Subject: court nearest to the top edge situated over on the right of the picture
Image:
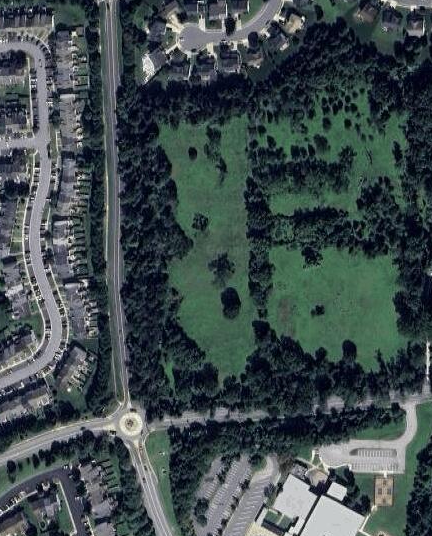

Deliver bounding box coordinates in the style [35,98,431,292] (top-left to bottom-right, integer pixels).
[374,476,394,507]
